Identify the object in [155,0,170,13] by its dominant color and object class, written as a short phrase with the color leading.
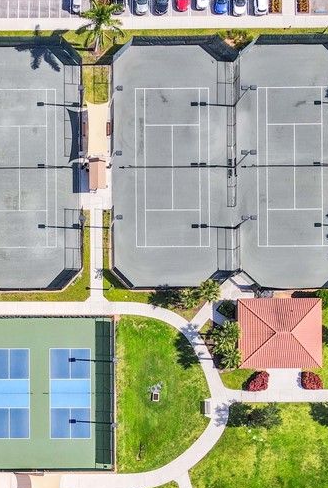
blue vehicle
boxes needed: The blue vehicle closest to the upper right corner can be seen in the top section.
[214,0,228,12]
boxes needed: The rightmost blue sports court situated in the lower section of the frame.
[45,348,95,439]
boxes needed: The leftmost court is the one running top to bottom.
[0,348,34,439]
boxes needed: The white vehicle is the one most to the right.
[254,0,270,14]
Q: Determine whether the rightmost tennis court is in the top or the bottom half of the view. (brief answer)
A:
top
